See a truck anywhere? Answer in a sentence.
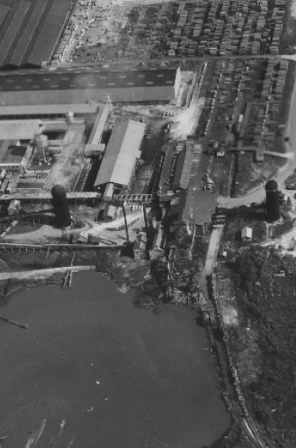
No, I can't see a single truck in this photo.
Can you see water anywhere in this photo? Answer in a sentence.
Yes, the picture does contain water.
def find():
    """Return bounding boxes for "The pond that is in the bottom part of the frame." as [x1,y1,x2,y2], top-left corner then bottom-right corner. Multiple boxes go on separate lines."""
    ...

[0,274,233,448]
